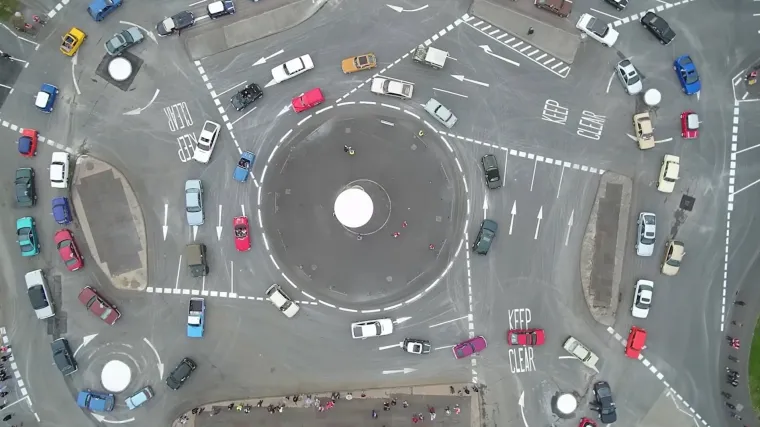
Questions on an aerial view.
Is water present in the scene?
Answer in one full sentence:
No, there's no water in this view.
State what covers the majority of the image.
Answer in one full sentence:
Most of the picture is covered by paved ground.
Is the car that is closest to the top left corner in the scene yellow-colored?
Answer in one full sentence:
Yes, the car that is closest to the top left corner is yellow.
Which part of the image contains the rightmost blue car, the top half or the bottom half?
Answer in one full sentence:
The top half of the photo is where the rightmost blue car is.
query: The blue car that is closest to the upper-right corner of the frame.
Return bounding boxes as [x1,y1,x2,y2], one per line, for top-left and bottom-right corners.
[675,55,701,94]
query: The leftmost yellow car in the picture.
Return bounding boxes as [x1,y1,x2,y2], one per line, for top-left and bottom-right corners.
[62,29,86,56]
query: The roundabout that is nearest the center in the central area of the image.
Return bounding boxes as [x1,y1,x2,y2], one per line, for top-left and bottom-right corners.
[258,101,469,313]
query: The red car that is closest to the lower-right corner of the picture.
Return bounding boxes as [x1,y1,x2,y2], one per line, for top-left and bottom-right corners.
[623,326,648,359]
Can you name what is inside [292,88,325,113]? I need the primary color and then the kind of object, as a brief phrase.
red car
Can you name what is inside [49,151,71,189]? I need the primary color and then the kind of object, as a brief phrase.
white car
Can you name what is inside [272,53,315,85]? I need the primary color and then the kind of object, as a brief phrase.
white car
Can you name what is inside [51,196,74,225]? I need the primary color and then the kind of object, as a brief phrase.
blue car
